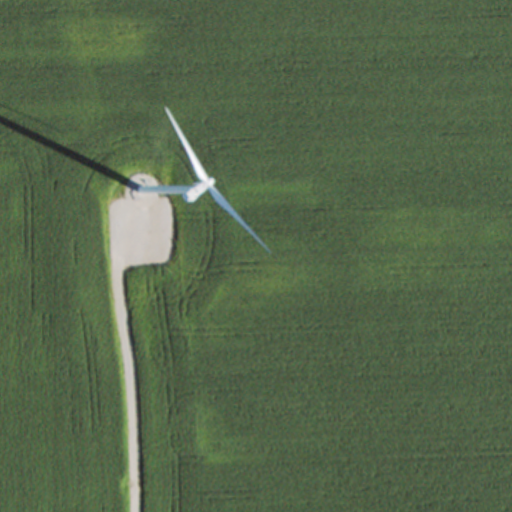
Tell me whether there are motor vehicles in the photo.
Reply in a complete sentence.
No, the picture doesn't show any motor vehicle.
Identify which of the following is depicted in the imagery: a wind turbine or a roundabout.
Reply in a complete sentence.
Visible in the photo is a wind turbine.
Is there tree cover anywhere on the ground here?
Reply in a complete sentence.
No, no tree cover is visible.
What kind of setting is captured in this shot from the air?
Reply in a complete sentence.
This image shows farmland.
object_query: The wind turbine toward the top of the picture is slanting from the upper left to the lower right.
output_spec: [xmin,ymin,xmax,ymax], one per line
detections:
[138,106,270,252]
